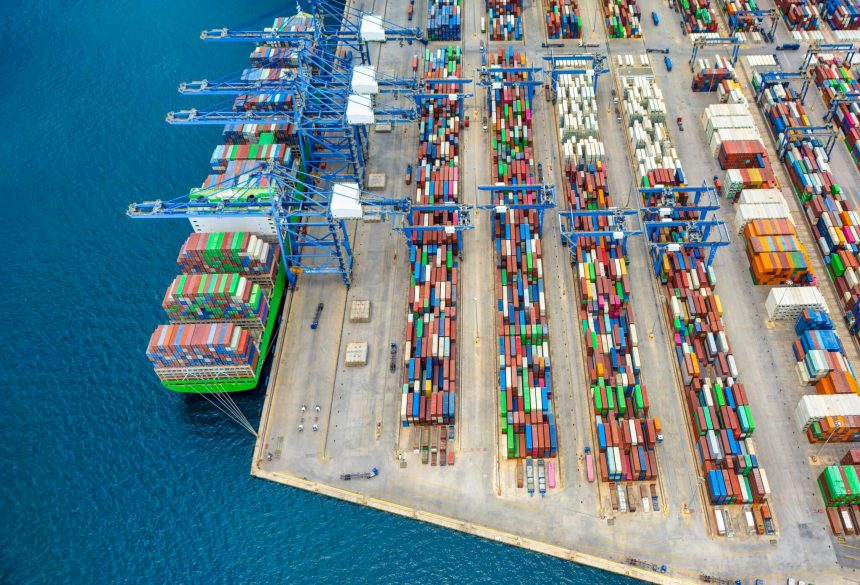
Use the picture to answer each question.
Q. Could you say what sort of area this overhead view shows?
port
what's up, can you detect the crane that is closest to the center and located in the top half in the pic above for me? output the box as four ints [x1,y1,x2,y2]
[395,189,477,255]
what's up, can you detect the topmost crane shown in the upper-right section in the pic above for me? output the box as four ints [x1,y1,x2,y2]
[729,8,784,44]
